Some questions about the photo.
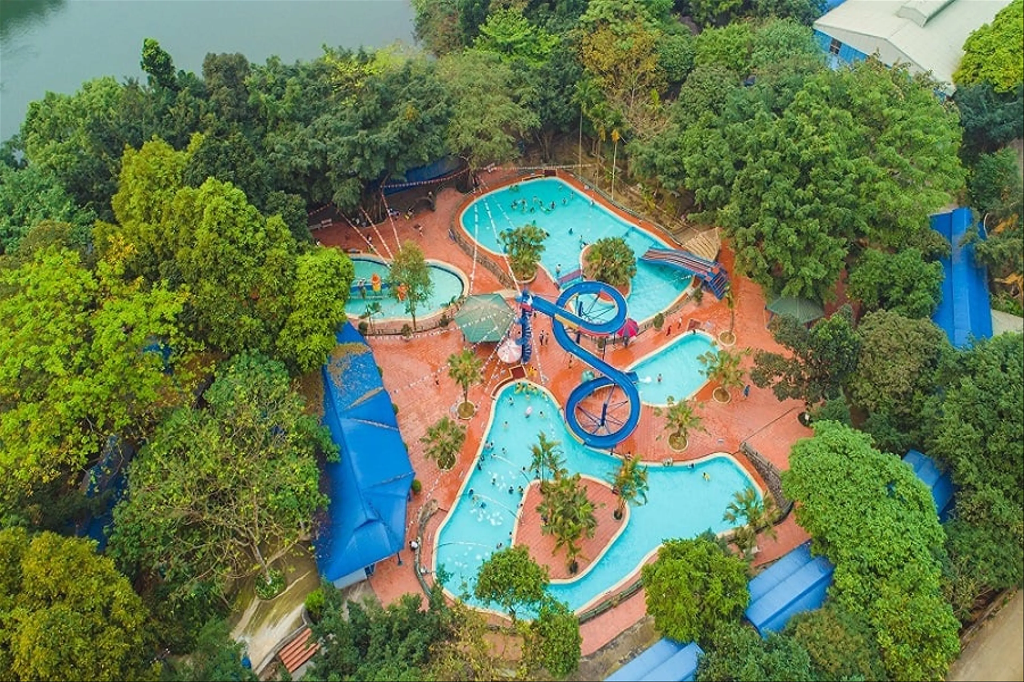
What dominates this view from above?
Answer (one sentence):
The bulk of the photo consists of trees.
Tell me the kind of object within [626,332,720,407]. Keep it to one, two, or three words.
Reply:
swimming pool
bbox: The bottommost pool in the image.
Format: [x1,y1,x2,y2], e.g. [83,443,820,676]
[432,379,763,621]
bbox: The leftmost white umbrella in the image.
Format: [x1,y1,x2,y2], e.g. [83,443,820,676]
[498,342,522,371]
